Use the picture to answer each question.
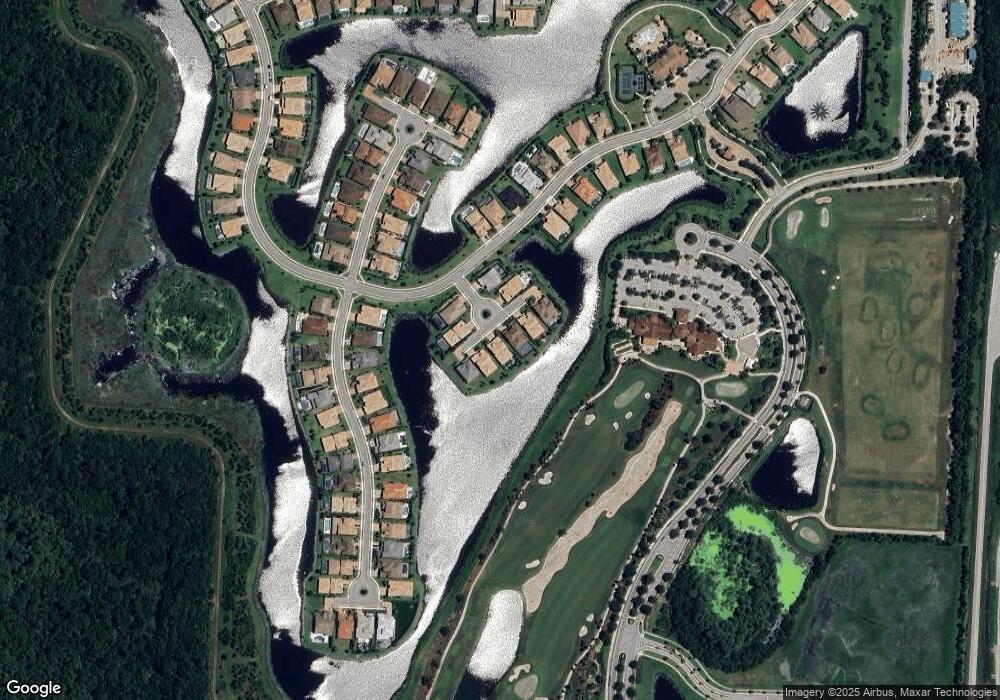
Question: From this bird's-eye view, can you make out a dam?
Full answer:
No, the frame has no dam in it.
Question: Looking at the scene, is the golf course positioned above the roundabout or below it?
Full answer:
In the image, the golf course sits below the roundabout.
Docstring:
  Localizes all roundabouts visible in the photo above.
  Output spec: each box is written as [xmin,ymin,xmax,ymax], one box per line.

[675,222,707,254]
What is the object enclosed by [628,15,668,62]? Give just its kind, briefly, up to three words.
swimming pool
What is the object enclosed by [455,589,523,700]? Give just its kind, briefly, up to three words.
pond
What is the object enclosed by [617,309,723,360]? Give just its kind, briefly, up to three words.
building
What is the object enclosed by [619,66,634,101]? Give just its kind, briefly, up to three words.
tennis court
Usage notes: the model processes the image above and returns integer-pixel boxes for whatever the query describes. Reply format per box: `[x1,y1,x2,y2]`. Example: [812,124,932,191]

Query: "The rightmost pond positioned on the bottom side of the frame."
[752,418,819,510]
